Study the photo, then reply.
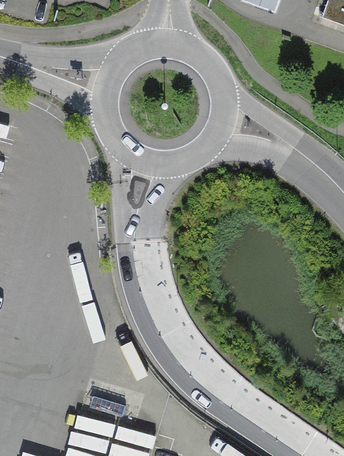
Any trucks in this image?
Yes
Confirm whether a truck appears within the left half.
Yes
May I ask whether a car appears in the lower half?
Yes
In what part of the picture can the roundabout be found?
top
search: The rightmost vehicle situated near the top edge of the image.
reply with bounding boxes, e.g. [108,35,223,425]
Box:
[34,0,48,22]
